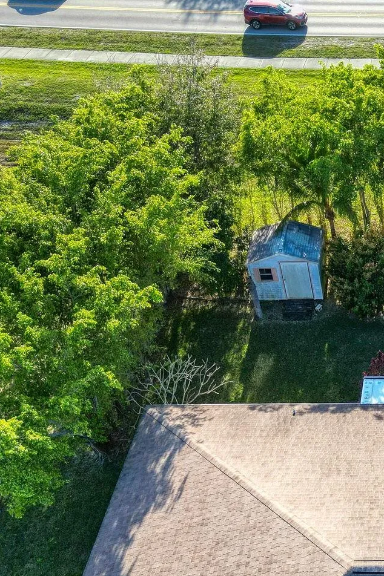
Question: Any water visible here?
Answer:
No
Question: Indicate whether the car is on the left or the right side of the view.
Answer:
right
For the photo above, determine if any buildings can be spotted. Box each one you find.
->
[80,405,384,576]
[247,217,328,305]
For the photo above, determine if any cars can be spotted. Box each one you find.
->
[241,0,308,28]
